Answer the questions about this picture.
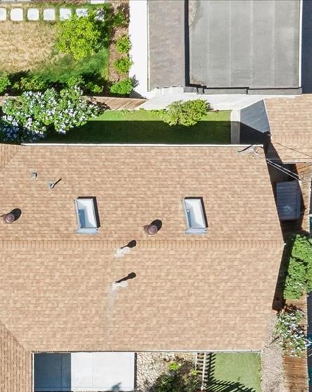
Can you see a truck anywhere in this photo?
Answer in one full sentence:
No, I find no truck anywhere in the image.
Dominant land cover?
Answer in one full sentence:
The bulk of the photo consists of buildings.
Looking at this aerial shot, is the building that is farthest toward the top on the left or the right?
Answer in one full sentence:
The building that is farthest toward the top appears in the right half of the scene.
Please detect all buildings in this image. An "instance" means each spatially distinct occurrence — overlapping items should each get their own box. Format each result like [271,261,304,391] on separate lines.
[133,0,303,107]
[0,143,282,392]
